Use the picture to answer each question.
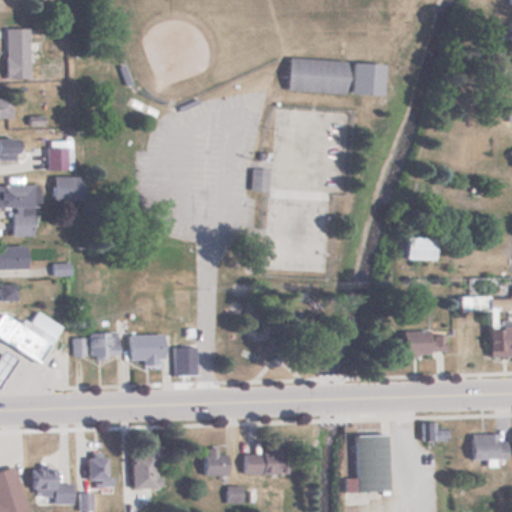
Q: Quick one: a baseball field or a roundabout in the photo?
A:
baseball field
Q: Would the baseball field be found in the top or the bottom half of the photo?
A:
top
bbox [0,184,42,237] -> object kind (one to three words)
house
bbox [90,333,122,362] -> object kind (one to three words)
house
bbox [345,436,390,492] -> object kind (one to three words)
building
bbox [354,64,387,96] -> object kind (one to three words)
building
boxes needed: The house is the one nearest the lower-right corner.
[472,432,511,469]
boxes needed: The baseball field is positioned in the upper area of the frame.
[143,20,210,95]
